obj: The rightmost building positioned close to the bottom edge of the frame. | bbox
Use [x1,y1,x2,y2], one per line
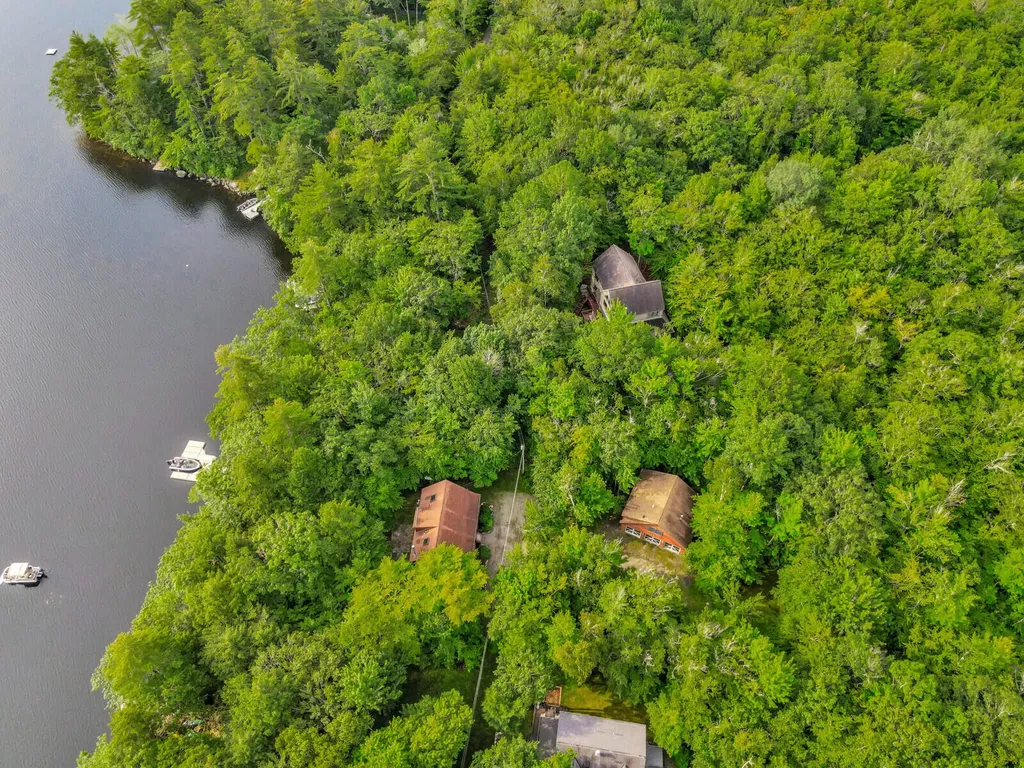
[528,680,663,768]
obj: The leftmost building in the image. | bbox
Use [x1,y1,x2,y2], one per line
[407,482,482,562]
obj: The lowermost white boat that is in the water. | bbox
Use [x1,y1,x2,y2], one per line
[2,563,45,584]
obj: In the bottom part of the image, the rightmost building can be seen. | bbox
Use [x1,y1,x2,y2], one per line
[620,470,697,549]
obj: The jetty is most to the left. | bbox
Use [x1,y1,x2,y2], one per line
[168,438,226,485]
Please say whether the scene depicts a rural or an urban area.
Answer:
rural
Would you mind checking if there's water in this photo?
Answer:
Yes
